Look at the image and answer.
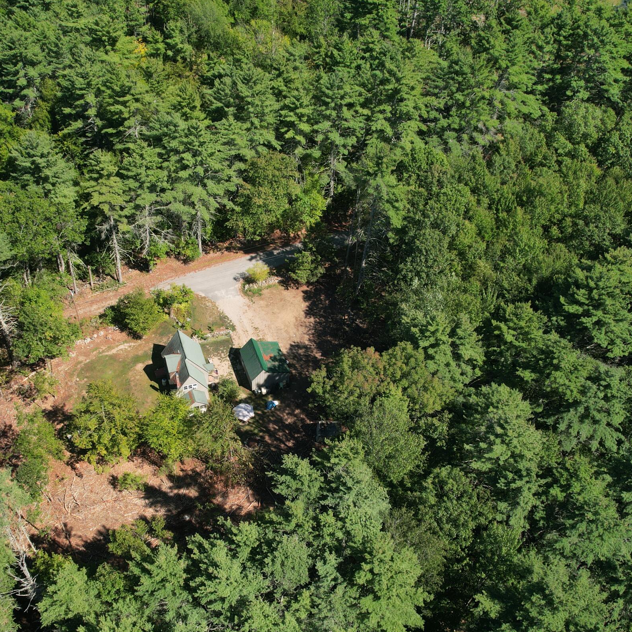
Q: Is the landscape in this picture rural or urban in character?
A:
rural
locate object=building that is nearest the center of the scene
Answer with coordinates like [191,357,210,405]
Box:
[240,338,290,391]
